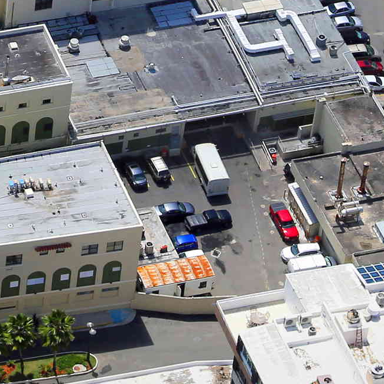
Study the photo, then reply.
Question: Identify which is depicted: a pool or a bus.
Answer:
bus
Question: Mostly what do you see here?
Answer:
buildings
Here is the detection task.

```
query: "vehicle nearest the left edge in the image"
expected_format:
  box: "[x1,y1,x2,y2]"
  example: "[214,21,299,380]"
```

[124,159,148,194]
